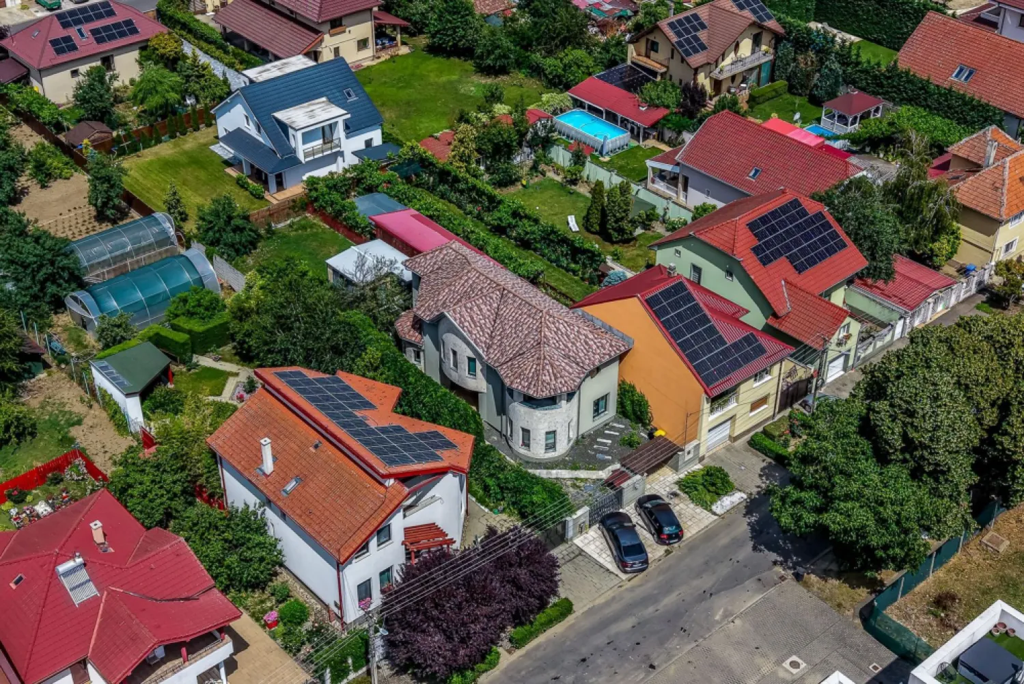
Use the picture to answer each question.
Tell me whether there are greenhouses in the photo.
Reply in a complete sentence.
Yes, there is a greenhouse in the image.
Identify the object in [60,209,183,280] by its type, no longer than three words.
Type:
greenhouse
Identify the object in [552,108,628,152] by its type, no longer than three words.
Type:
swimming pool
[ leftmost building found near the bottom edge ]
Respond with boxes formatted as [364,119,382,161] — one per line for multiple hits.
[0,486,243,684]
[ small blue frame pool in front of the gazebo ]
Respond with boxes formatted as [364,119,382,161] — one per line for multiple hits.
[803,124,839,146]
